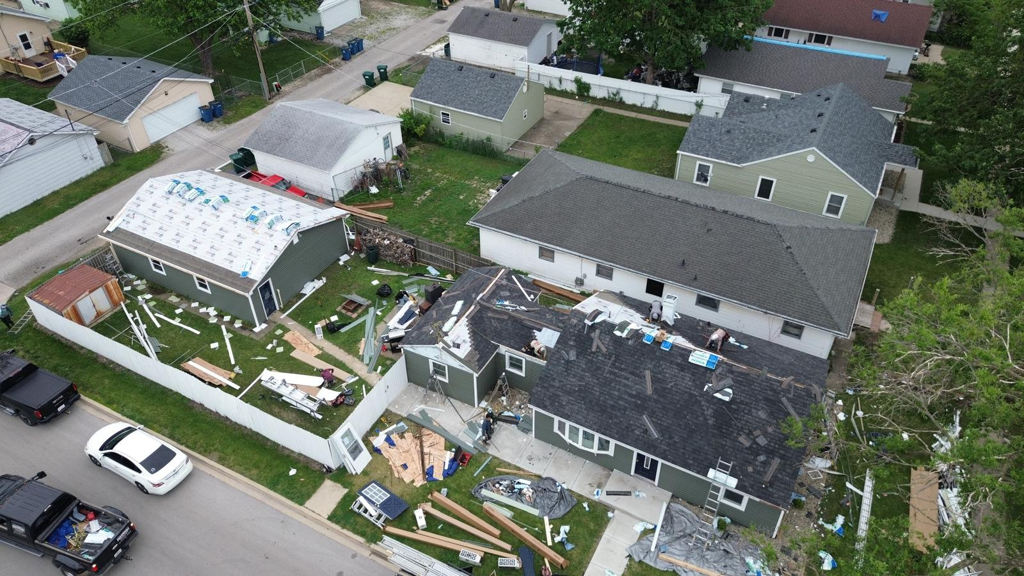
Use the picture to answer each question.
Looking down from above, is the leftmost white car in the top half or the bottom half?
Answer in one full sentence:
The bottom half of the photo is where the leftmost white car is.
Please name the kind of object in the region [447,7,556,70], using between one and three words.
building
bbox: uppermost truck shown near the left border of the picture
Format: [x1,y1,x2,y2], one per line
[0,349,81,424]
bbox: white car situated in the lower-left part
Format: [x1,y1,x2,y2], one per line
[86,430,193,502]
